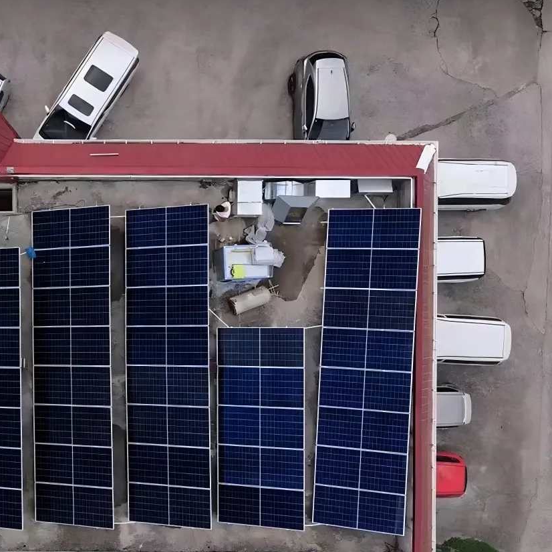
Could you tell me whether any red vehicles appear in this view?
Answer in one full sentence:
Yes, a red vehicle is visible in the scene.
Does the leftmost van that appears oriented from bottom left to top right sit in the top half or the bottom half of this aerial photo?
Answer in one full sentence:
The top half of the photo is where the leftmost van that appears oriented from bottom left to top right is.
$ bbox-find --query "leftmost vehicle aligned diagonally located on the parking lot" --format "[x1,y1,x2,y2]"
[38,34,136,137]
